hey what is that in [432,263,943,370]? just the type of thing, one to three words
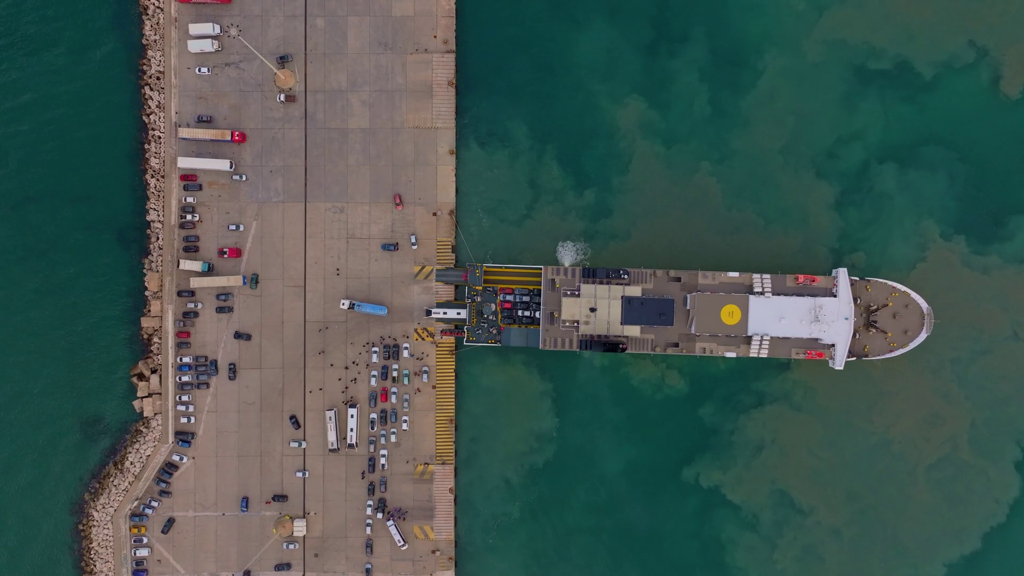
ship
